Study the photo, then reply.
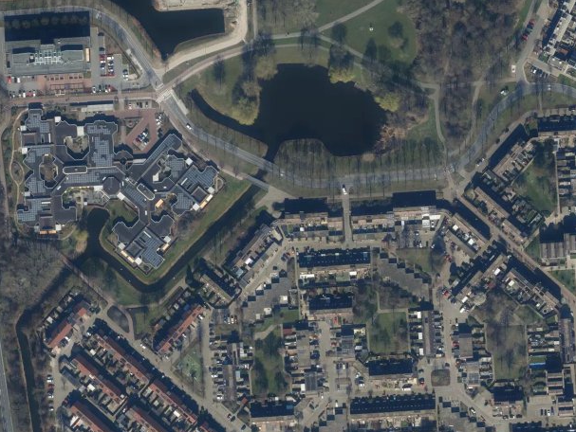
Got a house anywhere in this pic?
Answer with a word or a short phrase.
Yes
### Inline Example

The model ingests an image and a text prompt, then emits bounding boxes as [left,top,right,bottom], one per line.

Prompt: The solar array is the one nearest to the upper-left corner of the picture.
[26,114,49,133]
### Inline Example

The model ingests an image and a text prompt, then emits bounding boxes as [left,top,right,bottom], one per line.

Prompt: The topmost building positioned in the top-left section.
[2,37,90,75]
